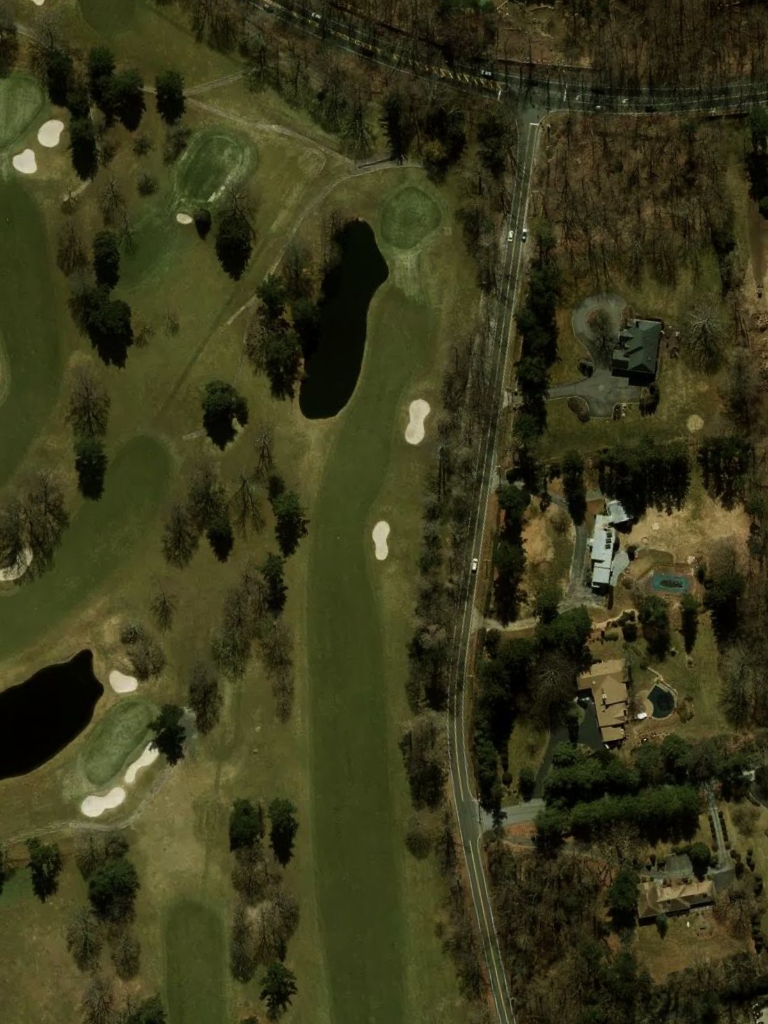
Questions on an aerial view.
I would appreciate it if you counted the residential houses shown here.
4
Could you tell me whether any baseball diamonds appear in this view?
No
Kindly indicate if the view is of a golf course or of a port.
golf course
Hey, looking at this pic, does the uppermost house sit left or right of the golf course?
on the right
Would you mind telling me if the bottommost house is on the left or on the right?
right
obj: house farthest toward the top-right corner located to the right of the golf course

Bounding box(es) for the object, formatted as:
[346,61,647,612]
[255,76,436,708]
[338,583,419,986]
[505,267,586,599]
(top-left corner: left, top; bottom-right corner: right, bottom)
[612,318,662,373]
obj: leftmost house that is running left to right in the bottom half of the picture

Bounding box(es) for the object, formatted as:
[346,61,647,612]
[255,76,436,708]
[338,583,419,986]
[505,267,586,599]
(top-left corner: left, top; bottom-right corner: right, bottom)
[638,879,716,919]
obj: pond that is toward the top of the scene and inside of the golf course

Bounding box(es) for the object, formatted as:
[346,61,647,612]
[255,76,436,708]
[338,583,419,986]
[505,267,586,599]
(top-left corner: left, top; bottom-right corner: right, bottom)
[299,219,389,420]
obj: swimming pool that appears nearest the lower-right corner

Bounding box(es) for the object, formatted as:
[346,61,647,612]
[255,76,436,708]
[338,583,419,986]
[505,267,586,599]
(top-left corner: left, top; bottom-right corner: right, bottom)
[634,684,677,720]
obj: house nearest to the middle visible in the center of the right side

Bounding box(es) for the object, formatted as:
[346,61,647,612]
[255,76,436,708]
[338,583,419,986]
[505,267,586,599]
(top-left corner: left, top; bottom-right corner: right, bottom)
[587,501,630,586]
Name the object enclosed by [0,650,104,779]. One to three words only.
pond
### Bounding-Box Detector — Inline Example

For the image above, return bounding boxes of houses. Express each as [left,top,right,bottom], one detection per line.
[579,660,629,742]
[638,879,716,919]
[587,501,630,586]
[612,318,662,373]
